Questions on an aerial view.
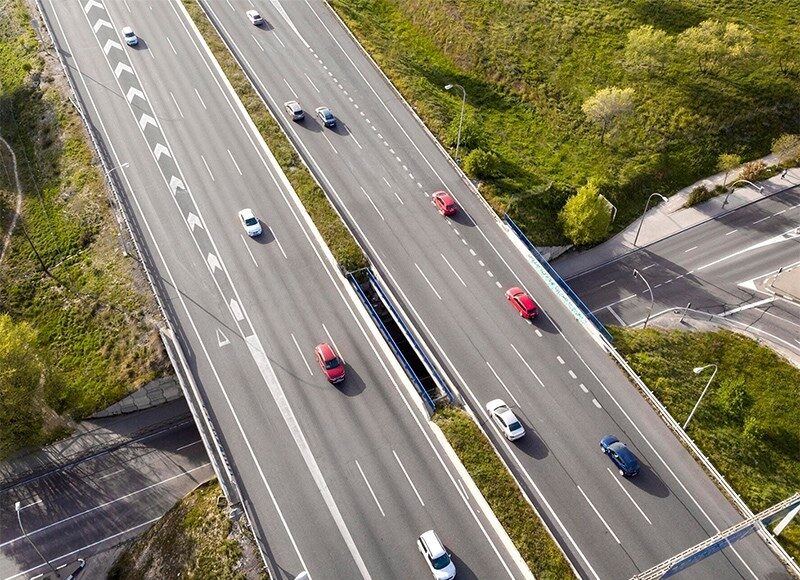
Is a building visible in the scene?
No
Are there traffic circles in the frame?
No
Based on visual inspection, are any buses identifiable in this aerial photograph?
No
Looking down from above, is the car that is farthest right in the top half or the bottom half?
bottom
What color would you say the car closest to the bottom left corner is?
red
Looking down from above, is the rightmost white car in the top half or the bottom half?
bottom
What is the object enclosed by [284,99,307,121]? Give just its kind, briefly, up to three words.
car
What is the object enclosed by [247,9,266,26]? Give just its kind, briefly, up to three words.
car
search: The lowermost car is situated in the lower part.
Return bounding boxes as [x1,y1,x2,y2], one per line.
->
[417,528,462,580]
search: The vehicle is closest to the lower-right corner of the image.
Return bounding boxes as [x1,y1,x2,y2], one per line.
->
[602,434,648,482]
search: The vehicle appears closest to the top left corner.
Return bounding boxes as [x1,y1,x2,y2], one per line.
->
[123,27,141,45]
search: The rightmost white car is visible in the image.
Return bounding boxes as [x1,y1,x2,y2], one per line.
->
[488,399,529,445]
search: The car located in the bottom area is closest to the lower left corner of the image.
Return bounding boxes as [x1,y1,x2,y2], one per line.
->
[315,342,349,385]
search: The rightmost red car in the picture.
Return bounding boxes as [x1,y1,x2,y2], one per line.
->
[507,286,543,320]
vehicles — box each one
[417,528,462,580]
[238,207,264,237]
[284,99,307,121]
[434,192,462,217]
[316,107,340,129]
[507,286,543,320]
[602,434,648,482]
[315,342,349,385]
[488,399,529,445]
[247,9,266,26]
[123,27,141,45]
